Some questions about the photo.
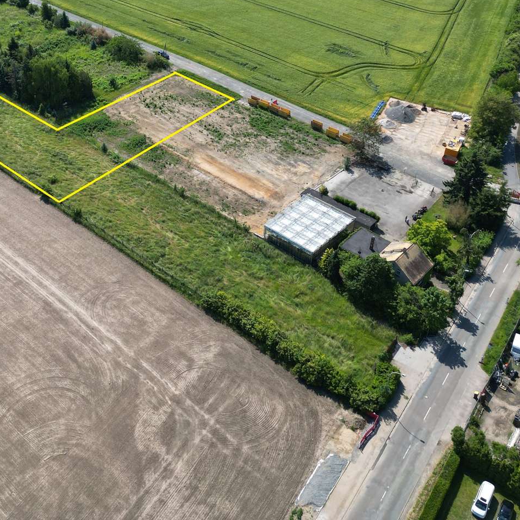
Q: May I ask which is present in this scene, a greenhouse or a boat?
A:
greenhouse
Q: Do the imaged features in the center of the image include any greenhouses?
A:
Yes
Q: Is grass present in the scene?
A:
Yes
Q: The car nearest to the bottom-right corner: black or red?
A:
black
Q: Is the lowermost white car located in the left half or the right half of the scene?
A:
right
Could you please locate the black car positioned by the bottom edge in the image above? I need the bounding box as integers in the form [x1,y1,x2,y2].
[493,496,516,520]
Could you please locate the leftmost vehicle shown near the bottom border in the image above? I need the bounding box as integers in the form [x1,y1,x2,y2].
[471,483,494,517]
